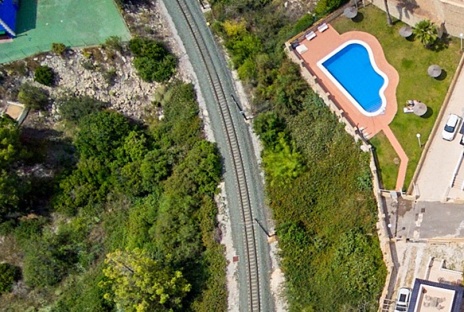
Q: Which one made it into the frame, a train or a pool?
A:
pool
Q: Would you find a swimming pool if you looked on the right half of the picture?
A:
Yes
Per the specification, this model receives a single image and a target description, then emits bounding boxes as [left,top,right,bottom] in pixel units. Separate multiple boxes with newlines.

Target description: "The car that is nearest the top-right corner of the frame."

[442,111,461,139]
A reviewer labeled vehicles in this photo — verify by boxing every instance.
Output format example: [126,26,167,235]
[393,286,411,312]
[442,111,461,139]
